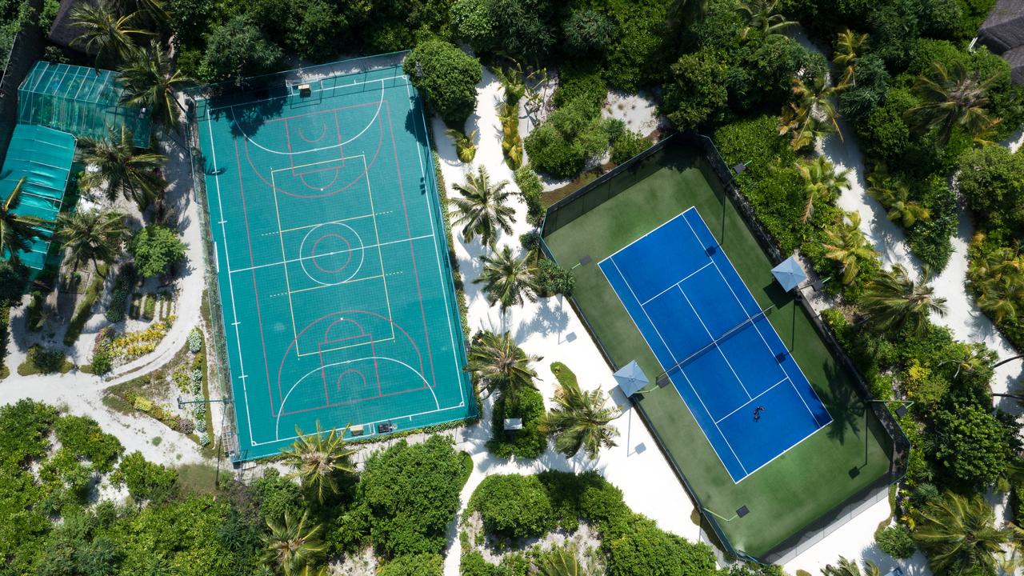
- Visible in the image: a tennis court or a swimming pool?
tennis court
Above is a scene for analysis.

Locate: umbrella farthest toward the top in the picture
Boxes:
[770,257,806,292]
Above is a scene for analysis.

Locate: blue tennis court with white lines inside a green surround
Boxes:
[540,143,895,559]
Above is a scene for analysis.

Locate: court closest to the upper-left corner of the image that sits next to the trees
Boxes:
[195,63,476,463]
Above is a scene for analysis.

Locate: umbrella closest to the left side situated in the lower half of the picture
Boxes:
[612,360,649,397]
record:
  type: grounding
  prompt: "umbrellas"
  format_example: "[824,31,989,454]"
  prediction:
[770,257,806,292]
[612,360,649,397]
